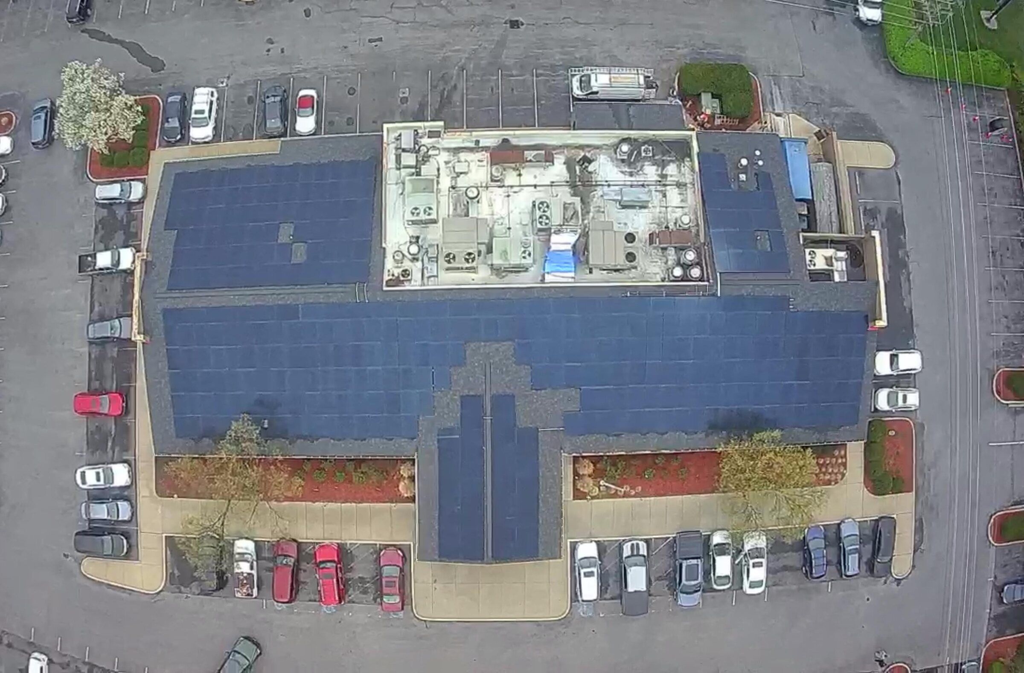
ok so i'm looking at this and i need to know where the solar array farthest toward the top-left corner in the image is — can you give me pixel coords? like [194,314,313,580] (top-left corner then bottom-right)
[164,158,376,289]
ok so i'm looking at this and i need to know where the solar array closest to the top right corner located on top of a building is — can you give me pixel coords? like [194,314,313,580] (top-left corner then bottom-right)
[701,152,789,271]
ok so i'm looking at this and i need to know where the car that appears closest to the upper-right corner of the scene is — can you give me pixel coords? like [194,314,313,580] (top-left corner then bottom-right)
[854,0,885,26]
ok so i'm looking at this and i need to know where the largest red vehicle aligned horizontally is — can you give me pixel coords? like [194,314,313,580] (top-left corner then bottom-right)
[71,391,129,417]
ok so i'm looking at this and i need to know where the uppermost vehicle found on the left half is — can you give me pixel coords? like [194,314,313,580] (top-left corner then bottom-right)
[63,0,94,26]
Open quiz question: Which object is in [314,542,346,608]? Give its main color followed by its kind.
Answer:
red car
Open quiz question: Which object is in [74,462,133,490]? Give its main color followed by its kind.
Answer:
white car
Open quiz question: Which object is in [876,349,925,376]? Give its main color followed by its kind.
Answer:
white car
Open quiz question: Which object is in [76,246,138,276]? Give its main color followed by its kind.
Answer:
white vehicle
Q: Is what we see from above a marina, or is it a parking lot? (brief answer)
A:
parking lot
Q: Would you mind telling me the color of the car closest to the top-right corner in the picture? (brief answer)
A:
white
